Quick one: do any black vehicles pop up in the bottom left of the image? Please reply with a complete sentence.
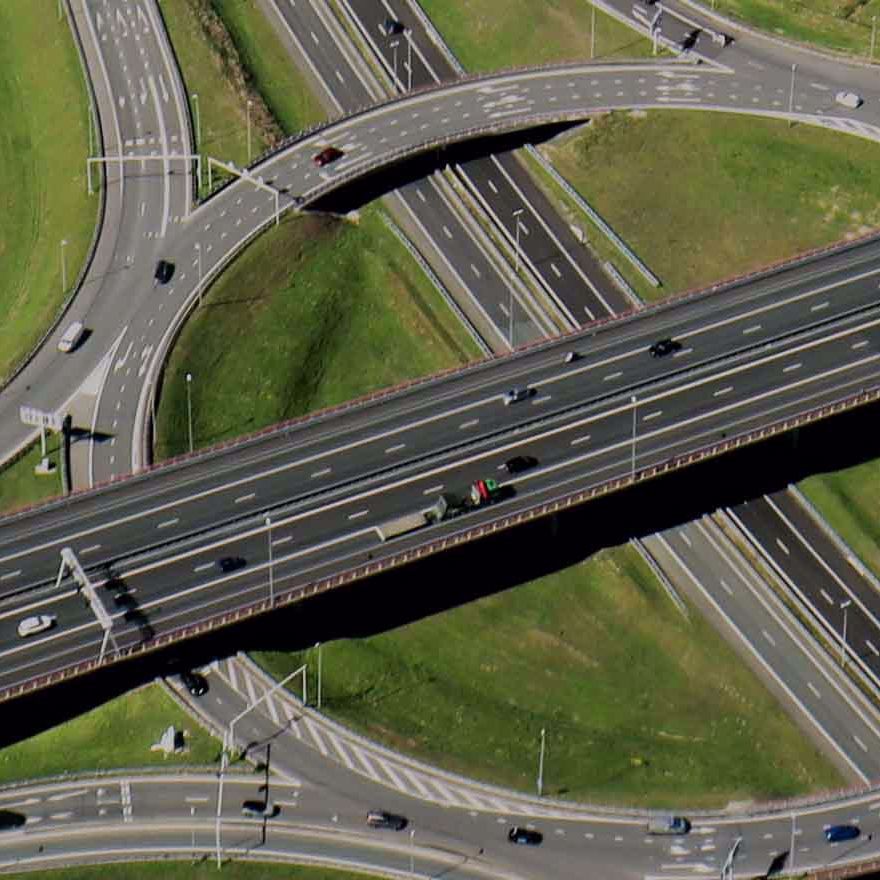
Yes, the scene does show a black vehicle in the bottom left of the image.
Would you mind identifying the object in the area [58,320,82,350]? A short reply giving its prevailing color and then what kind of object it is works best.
white vehicle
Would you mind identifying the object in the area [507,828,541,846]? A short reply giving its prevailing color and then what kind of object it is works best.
black car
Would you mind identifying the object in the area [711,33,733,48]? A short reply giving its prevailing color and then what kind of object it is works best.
white car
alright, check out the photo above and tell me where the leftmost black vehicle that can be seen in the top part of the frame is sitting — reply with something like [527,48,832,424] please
[156,263,173,284]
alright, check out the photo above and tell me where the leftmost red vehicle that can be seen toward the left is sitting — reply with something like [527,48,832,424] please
[312,150,339,166]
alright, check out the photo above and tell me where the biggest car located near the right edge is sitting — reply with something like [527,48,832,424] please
[822,825,858,843]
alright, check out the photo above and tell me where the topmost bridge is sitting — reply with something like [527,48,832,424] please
[195,55,672,217]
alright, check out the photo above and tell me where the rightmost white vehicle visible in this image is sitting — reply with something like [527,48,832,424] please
[834,94,861,108]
